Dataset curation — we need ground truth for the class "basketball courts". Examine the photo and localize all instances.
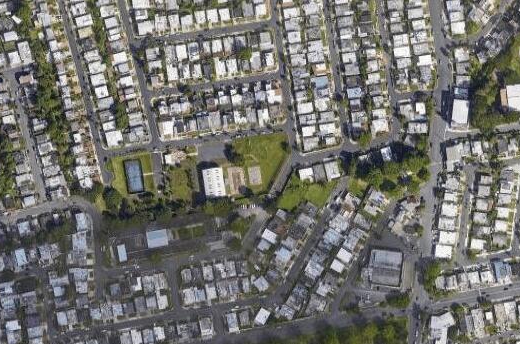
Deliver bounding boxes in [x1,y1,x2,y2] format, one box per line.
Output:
[249,166,262,185]
[123,158,145,194]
